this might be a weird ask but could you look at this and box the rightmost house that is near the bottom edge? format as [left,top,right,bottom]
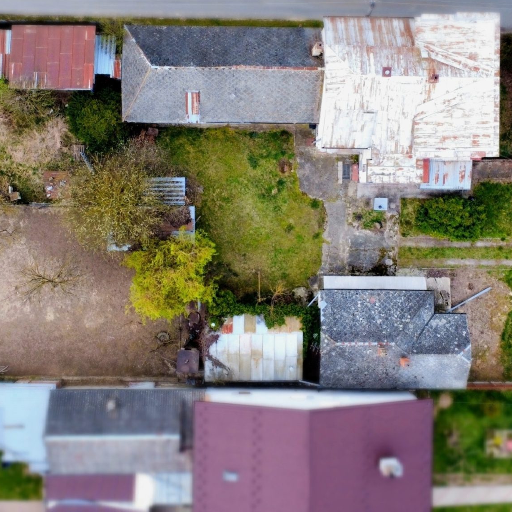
[195,388,432,512]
